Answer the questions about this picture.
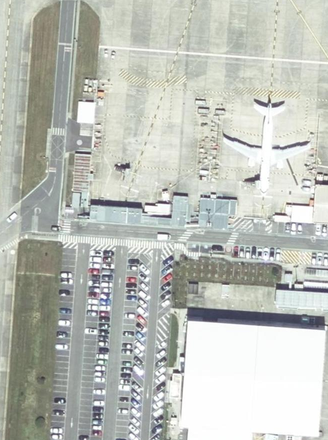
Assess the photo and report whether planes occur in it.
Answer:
Yes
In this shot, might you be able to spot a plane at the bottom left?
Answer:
No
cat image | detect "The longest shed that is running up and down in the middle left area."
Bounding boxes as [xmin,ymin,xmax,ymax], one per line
[73,155,92,192]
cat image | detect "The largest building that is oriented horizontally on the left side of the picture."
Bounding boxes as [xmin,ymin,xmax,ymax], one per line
[90,206,143,226]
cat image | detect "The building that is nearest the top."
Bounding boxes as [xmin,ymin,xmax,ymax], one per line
[78,102,96,124]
